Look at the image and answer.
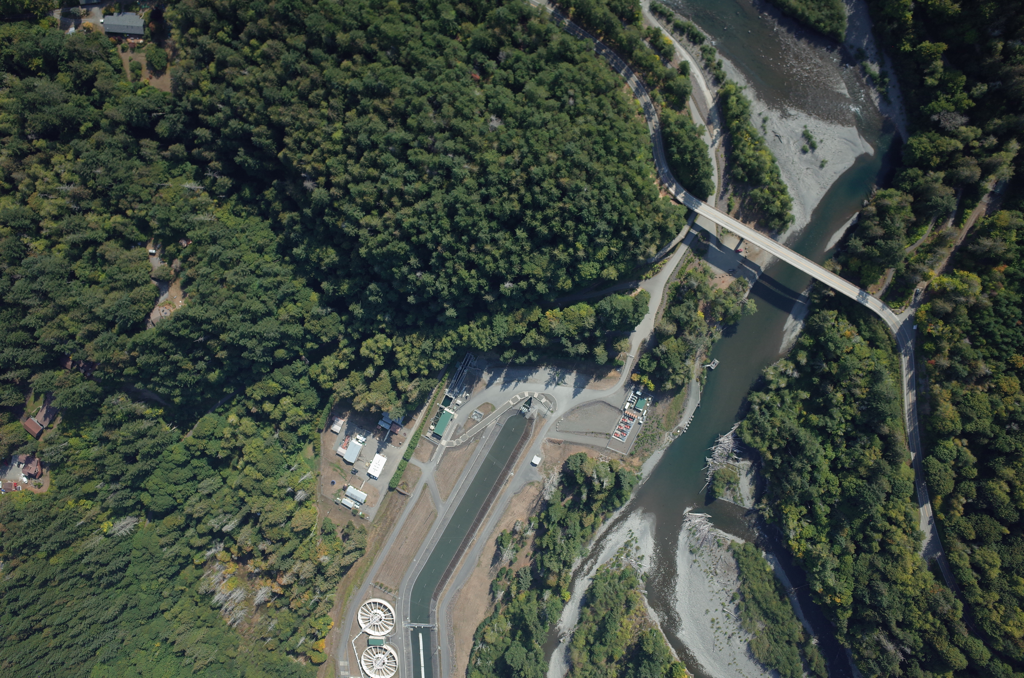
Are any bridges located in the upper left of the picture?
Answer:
No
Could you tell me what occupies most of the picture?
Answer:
trees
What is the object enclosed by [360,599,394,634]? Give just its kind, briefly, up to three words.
storage tank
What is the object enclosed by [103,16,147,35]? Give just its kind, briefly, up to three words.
house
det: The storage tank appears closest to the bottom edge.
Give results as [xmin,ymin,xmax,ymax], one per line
[363,646,397,678]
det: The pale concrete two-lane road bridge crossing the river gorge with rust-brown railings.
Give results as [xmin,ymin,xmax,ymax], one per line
[690,199,874,307]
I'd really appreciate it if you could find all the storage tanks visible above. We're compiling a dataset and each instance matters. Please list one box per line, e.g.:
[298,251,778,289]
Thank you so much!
[360,599,394,634]
[363,646,397,678]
